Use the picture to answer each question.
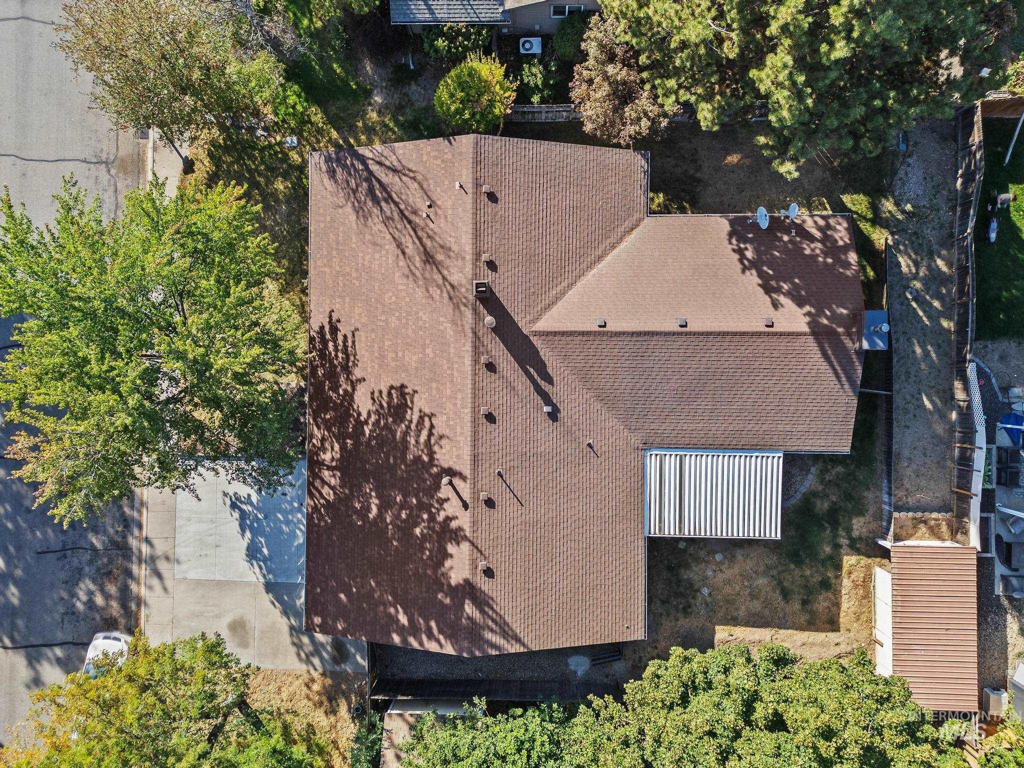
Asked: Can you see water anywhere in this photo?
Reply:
No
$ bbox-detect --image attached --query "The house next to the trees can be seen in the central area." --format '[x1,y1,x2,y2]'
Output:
[302,134,892,655]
